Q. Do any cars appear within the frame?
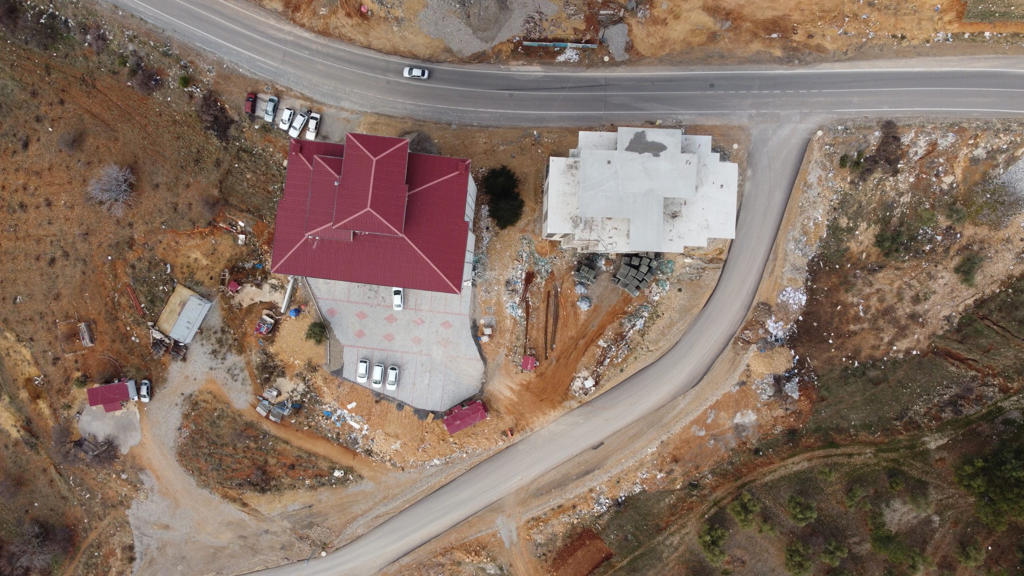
Yes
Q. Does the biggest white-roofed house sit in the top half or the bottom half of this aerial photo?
top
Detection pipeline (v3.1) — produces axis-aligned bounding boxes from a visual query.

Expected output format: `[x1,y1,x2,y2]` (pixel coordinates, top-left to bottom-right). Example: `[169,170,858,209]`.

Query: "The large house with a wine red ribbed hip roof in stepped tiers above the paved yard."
[272,132,473,293]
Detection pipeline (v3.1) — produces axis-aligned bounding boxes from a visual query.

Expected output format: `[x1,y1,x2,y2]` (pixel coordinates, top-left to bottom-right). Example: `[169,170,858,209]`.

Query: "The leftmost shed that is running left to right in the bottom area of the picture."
[87,378,142,412]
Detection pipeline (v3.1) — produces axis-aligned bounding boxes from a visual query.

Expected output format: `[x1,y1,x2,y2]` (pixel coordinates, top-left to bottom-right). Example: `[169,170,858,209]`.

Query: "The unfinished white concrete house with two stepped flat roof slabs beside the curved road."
[543,127,738,257]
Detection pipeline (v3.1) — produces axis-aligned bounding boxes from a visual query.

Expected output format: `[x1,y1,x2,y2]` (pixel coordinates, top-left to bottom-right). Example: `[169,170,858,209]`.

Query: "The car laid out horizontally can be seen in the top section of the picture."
[403,68,429,81]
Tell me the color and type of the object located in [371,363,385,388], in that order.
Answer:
white car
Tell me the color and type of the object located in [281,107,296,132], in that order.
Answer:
white car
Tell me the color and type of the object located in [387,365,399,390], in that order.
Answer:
white vehicle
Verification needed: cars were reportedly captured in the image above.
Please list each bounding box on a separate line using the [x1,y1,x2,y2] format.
[139,379,153,402]
[387,365,399,390]
[371,363,385,388]
[356,358,370,383]
[393,286,404,310]
[306,113,322,141]
[264,96,279,123]
[281,107,296,132]
[403,68,429,81]
[289,112,309,139]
